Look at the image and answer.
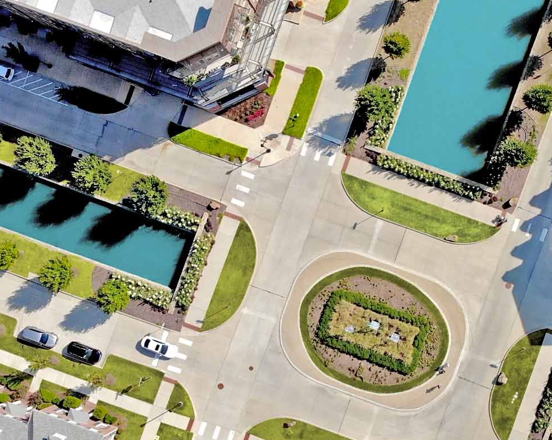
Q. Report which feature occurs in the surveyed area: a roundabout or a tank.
roundabout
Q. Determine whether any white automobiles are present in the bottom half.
Yes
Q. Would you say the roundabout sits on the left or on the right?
right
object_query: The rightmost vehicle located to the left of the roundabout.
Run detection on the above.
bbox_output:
[139,335,180,359]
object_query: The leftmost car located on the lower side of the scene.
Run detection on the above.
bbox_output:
[15,326,59,349]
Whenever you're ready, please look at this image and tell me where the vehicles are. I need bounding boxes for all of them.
[15,326,59,349]
[491,217,506,226]
[0,62,17,81]
[139,335,180,359]
[59,341,104,365]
